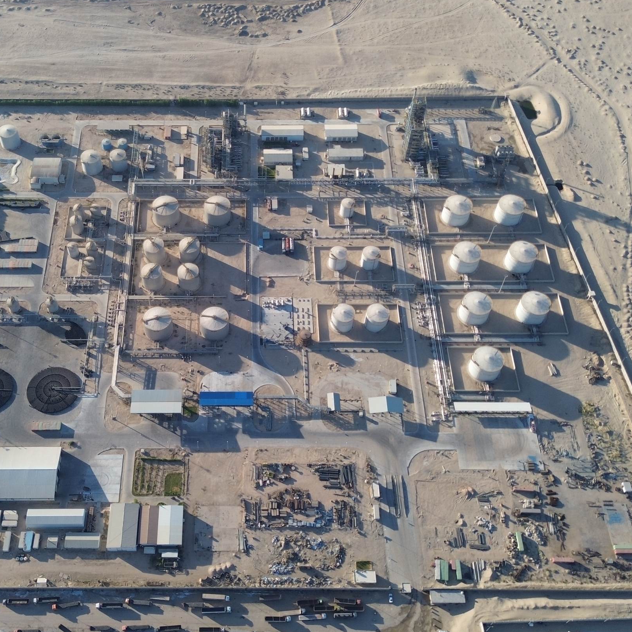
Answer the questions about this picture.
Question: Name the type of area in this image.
industrial area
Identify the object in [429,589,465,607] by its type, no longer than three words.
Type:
building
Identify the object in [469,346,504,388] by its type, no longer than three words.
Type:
storage tank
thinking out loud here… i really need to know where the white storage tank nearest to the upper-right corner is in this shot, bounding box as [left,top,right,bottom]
[493,193,527,230]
